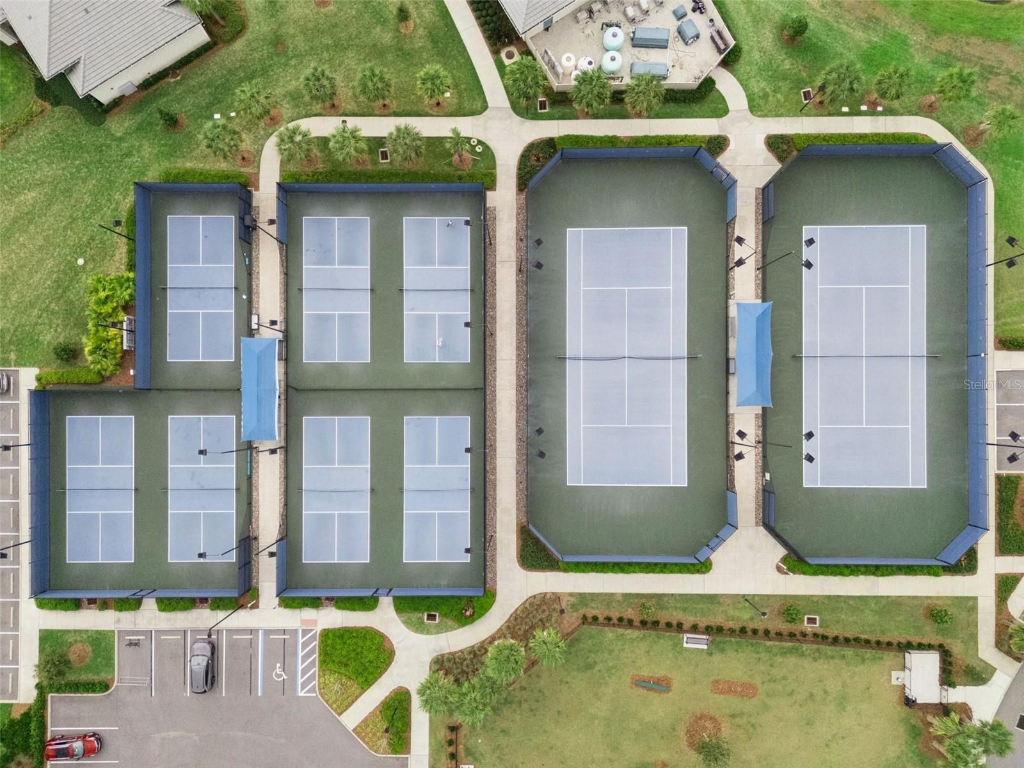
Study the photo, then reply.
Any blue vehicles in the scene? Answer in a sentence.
No, no blue vehicle is visible in the view.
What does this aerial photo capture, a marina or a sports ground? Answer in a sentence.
The area seen from above is a sports ground.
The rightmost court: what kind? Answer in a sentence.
The rightmost court can be classified as a tennis court.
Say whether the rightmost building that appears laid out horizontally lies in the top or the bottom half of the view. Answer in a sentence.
The rightmost building that appears laid out horizontally sits in the top half of the picture.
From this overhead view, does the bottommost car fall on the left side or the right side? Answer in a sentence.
You can find the bottommost car on the left side of the picture.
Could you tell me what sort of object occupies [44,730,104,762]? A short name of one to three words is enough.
car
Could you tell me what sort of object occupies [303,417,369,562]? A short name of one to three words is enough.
sports court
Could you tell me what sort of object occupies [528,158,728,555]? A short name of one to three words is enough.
tennis court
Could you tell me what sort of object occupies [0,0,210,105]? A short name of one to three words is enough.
building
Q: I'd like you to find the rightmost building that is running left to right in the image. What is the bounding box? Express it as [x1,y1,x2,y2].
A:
[498,0,598,45]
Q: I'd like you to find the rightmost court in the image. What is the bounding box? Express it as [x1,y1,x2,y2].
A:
[763,155,968,559]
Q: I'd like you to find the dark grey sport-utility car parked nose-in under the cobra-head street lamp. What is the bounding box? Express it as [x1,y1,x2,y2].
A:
[188,638,218,694]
